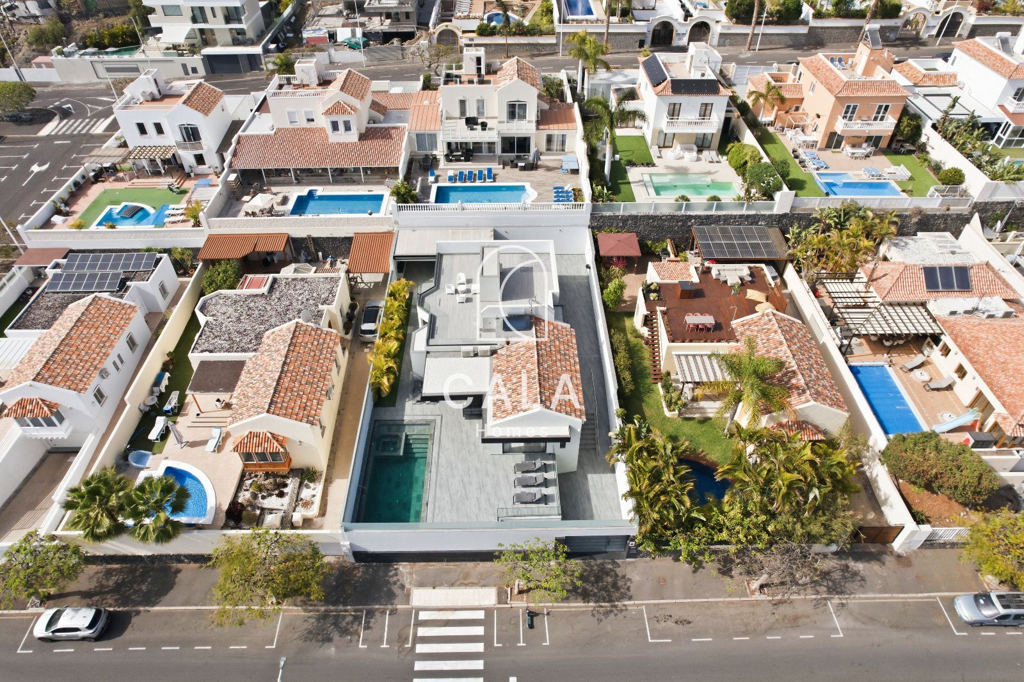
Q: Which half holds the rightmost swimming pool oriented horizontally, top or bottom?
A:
top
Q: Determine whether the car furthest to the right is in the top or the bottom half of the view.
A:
bottom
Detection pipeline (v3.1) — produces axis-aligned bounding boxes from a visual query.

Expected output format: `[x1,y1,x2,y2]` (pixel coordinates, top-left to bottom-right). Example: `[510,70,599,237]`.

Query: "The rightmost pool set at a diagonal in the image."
[845,358,933,440]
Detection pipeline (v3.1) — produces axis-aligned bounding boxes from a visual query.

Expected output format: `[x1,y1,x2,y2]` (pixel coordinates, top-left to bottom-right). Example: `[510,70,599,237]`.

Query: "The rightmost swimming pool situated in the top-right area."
[811,171,906,198]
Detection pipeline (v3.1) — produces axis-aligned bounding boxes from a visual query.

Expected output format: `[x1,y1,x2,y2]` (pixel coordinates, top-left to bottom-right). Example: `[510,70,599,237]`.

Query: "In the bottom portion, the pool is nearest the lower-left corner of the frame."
[140,459,217,525]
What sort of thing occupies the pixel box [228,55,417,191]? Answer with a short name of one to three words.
house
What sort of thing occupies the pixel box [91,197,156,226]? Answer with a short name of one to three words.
swimming pool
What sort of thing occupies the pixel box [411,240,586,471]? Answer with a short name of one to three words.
house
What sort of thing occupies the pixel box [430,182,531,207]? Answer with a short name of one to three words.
swimming pool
